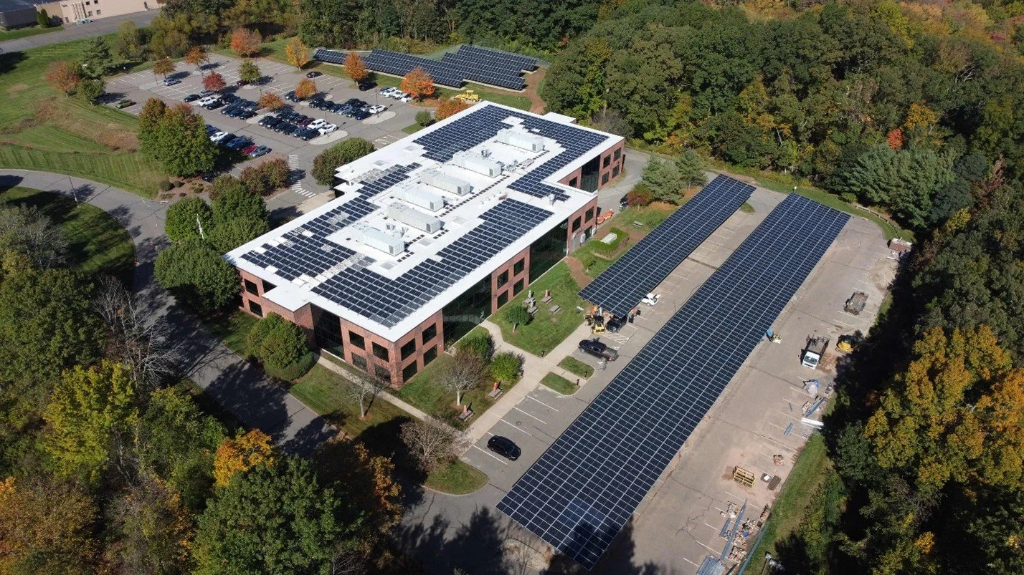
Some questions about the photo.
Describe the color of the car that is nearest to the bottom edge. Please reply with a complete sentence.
The color of the car that is nearest to the bottom edge is black.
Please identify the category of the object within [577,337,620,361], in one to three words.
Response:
car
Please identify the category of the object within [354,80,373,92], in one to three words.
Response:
vehicle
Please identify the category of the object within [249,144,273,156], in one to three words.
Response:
vehicle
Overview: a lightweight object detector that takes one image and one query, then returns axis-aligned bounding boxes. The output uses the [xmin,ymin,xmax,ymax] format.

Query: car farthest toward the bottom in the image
[484,433,525,461]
